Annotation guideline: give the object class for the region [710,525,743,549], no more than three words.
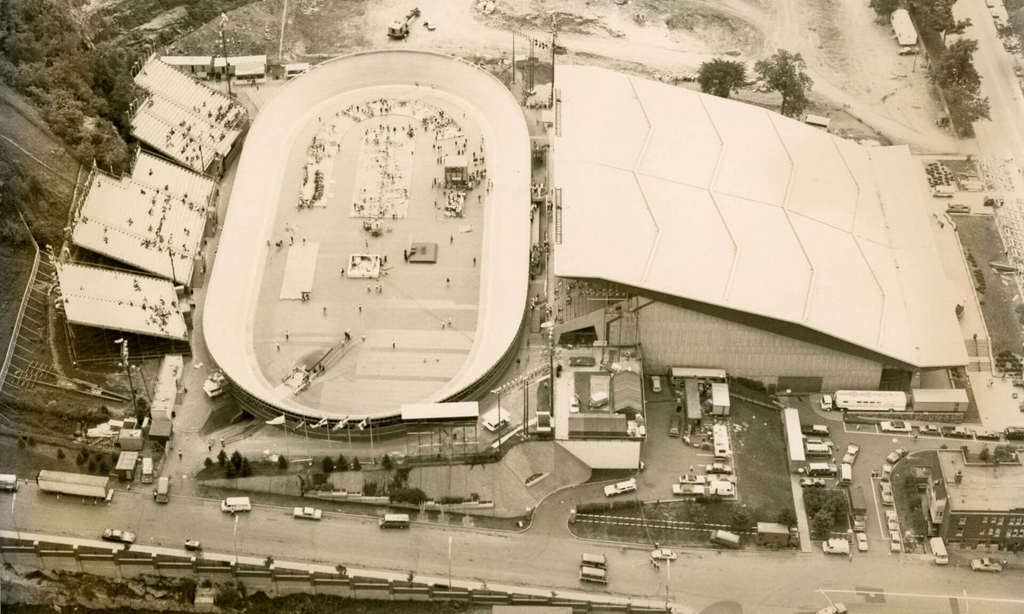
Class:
vehicle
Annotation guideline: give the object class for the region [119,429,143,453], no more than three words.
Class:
building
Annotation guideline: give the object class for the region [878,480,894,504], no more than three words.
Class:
car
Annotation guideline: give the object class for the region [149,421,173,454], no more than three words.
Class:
shed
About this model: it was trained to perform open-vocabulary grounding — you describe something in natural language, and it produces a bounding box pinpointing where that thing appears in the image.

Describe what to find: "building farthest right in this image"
[928,449,1024,557]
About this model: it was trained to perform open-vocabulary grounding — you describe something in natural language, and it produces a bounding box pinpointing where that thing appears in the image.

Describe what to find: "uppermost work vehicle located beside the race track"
[387,9,436,42]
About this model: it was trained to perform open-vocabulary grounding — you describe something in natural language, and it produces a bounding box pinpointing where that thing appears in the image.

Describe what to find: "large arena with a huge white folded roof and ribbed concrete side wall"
[546,61,968,391]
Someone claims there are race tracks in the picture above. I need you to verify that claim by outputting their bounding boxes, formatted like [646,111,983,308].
[208,45,533,444]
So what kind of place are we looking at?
sports ground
